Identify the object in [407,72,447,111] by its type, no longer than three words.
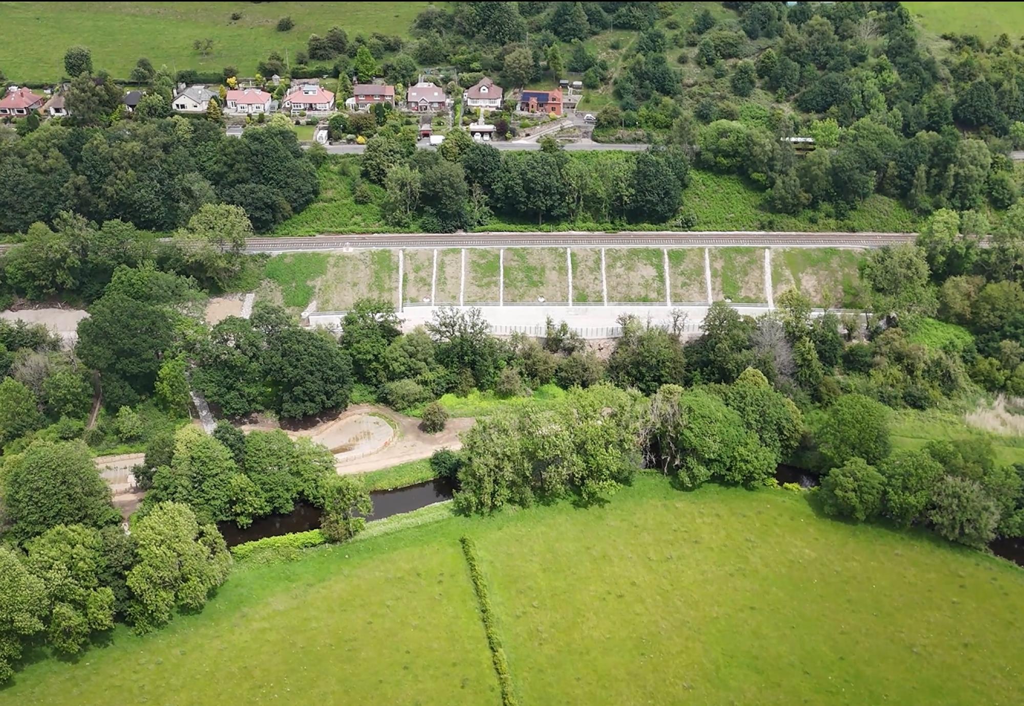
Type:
house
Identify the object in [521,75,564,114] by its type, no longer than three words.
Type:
house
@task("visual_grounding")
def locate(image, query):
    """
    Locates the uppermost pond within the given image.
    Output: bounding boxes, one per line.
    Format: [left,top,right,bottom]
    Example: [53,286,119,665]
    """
[307,413,393,461]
